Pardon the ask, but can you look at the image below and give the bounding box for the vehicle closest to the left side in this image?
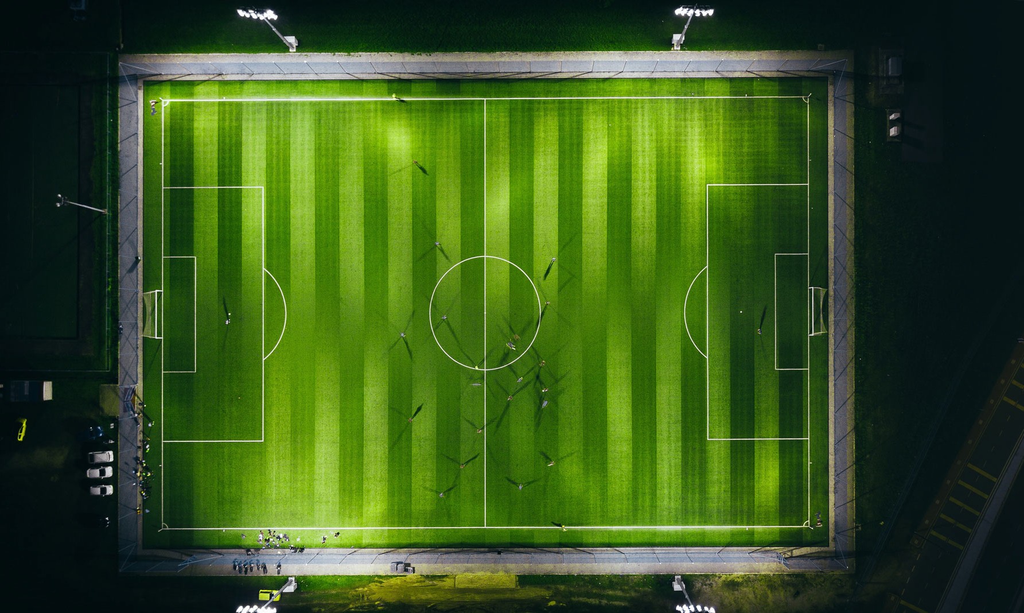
[9,417,26,443]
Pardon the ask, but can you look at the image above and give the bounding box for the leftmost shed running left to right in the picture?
[3,380,52,402]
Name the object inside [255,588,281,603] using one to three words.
vehicle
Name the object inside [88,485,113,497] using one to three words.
vehicle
